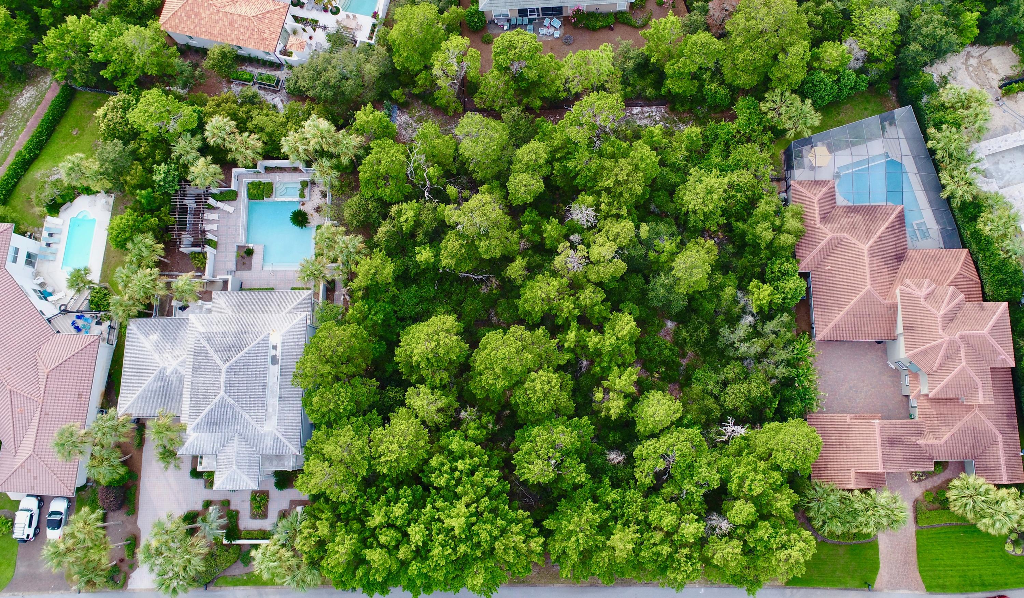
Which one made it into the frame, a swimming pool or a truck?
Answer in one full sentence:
There is a swimming pool in the scene.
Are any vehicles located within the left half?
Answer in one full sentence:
Yes, there is a vehicle within the left half.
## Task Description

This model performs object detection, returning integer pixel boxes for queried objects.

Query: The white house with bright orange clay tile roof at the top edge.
[159,0,296,59]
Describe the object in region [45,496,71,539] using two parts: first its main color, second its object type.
white car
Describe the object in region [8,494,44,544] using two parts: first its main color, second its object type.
white car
